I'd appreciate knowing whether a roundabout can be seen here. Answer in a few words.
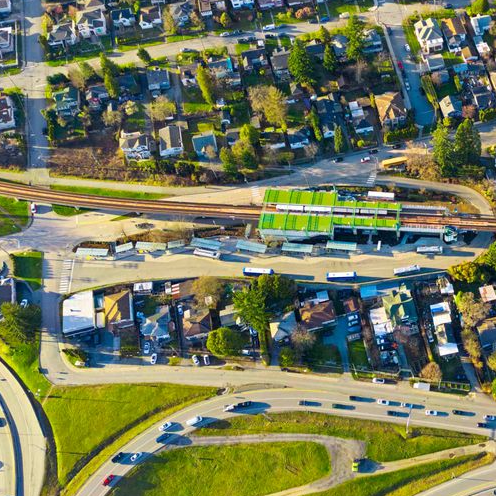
No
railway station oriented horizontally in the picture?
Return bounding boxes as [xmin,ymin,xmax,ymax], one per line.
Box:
[256,189,466,248]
